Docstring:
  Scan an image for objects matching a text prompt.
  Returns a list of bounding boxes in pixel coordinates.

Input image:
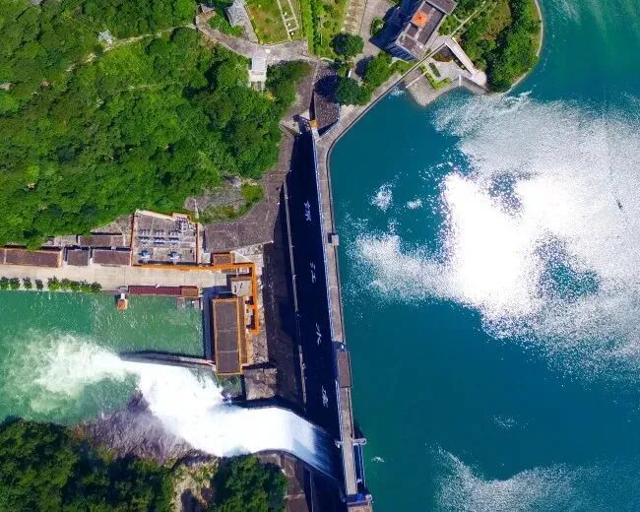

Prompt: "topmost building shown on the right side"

[388,0,457,62]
